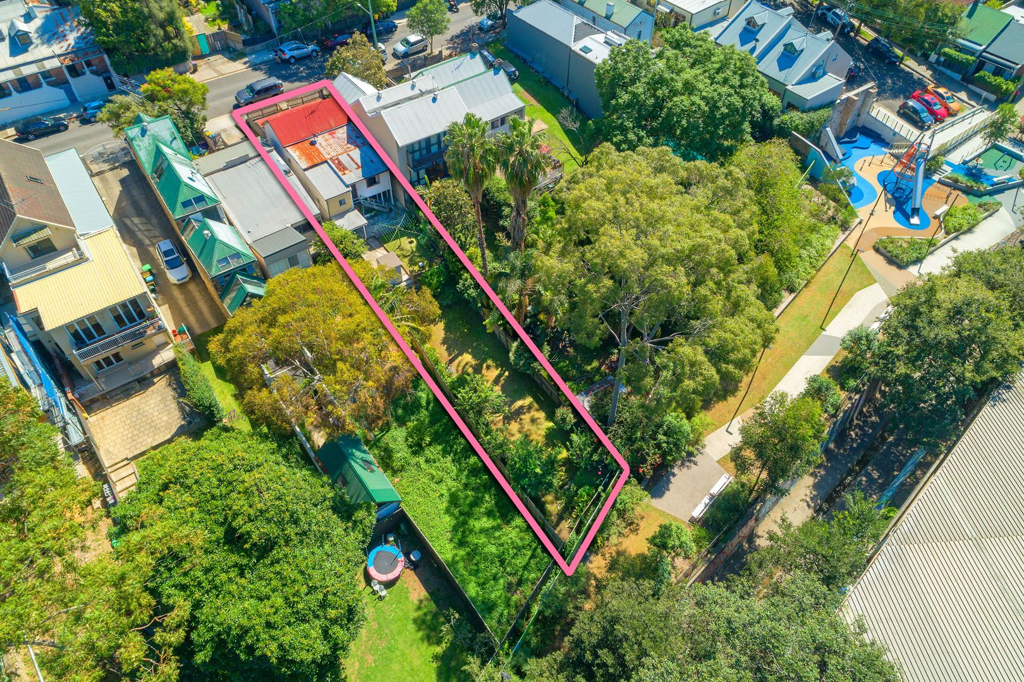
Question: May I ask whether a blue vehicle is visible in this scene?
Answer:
Yes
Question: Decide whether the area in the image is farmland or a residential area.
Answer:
residential area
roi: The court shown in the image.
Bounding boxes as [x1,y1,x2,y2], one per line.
[961,144,1024,196]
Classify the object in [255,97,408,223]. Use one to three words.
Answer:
house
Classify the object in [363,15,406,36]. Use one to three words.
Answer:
car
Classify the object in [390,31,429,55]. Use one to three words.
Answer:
car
